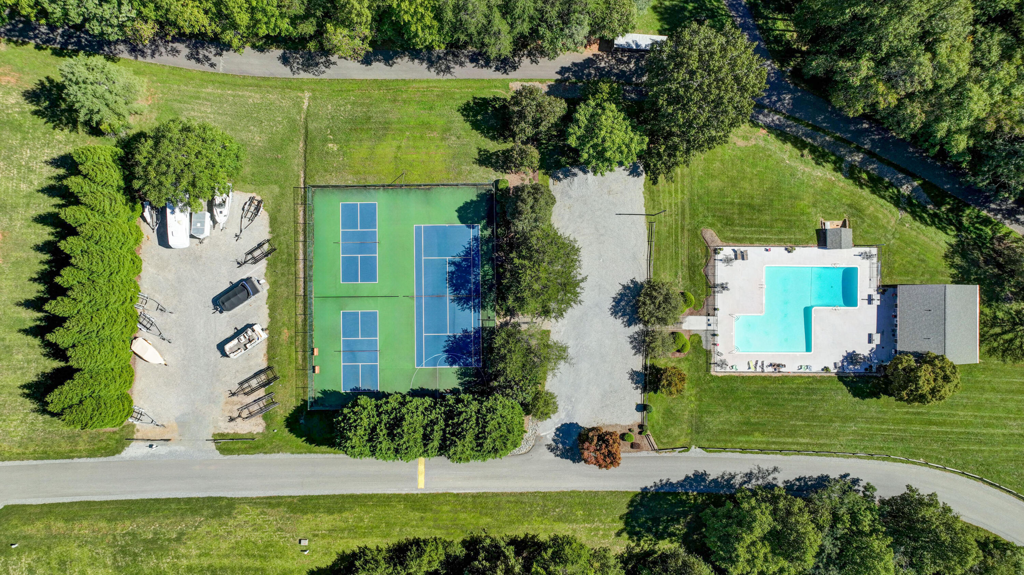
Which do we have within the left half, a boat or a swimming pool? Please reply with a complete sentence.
Visible within the left half is a boat.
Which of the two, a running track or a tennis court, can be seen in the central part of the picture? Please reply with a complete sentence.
The one visible in the central part of the picture is a tennis court.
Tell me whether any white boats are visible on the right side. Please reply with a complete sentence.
No, no white boat appears on the right side.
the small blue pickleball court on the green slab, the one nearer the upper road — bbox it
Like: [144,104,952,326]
[340,202,378,283]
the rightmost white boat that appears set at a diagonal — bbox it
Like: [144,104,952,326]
[223,324,268,358]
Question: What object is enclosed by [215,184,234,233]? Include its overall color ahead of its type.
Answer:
white boat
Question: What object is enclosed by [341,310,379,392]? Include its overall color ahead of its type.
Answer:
blue sports court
